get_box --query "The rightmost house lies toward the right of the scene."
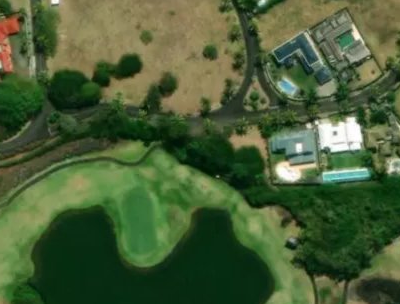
[364,126,400,157]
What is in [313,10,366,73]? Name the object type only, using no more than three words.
house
